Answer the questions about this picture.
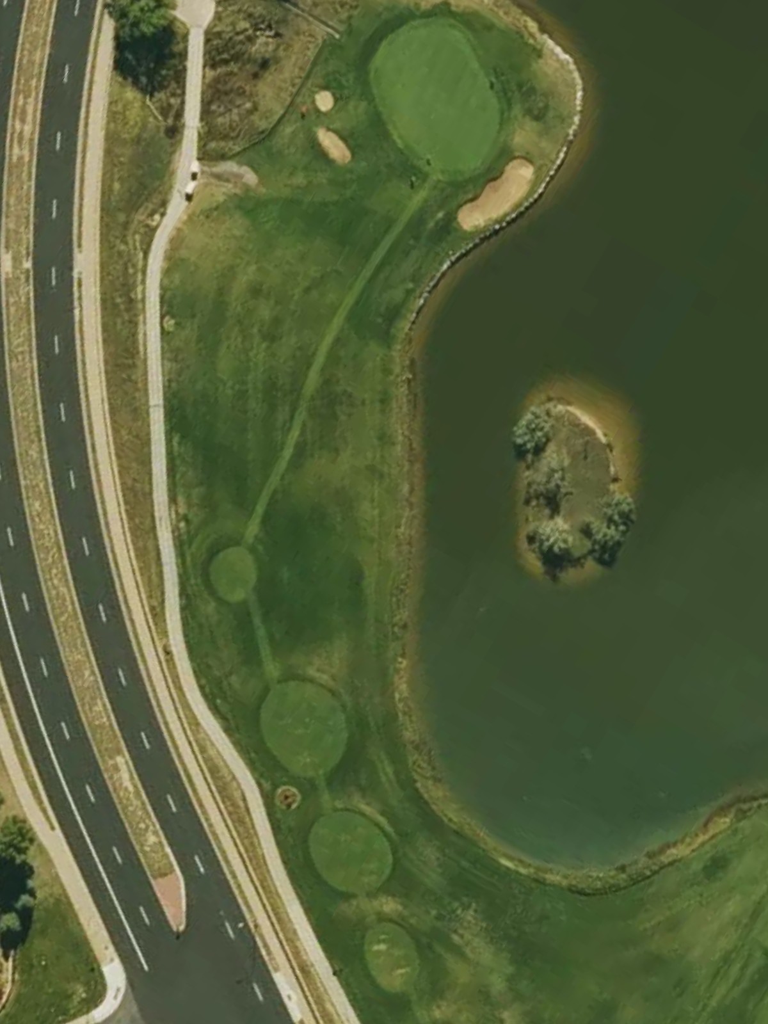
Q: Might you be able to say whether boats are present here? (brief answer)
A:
No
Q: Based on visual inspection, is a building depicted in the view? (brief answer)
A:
No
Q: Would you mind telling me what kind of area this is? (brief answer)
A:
golf course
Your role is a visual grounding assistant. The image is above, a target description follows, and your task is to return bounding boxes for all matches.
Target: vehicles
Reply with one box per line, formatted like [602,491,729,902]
[190,159,198,173]
[185,179,196,193]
